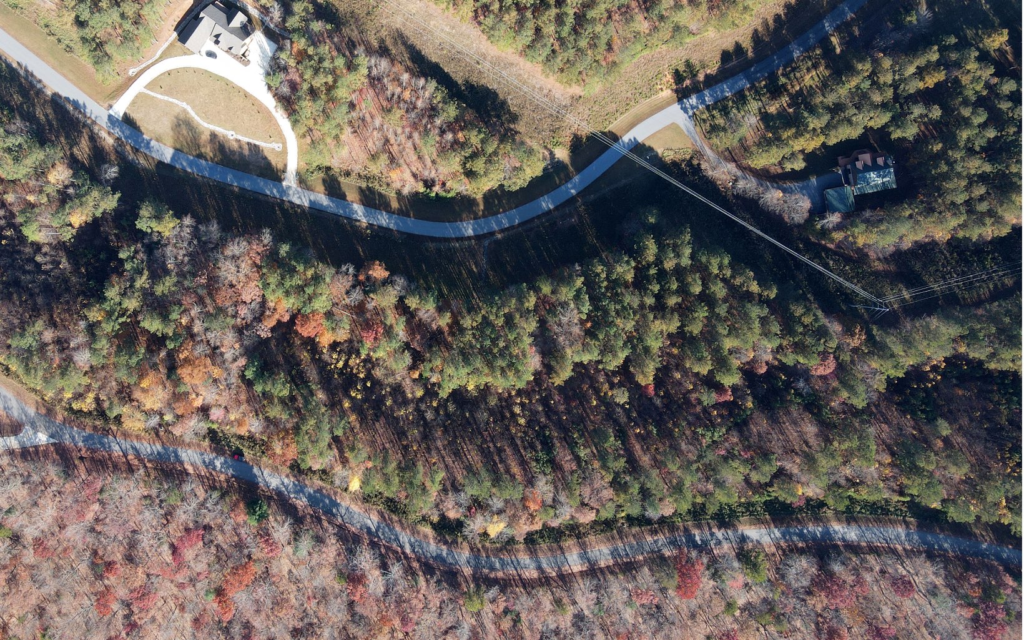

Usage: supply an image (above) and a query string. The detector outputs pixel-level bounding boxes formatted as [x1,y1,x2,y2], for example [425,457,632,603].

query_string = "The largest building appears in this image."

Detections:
[178,2,254,56]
